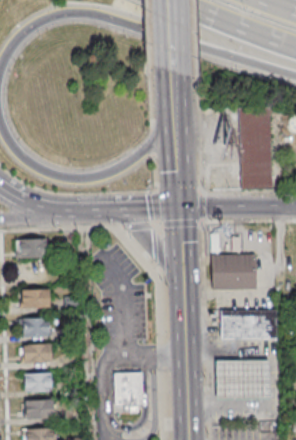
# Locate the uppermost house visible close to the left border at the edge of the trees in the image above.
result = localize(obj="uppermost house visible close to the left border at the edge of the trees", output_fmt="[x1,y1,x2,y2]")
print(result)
[13,238,46,259]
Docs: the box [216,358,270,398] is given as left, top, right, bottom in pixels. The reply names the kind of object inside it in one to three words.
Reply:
building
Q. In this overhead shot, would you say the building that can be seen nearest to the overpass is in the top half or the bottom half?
top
